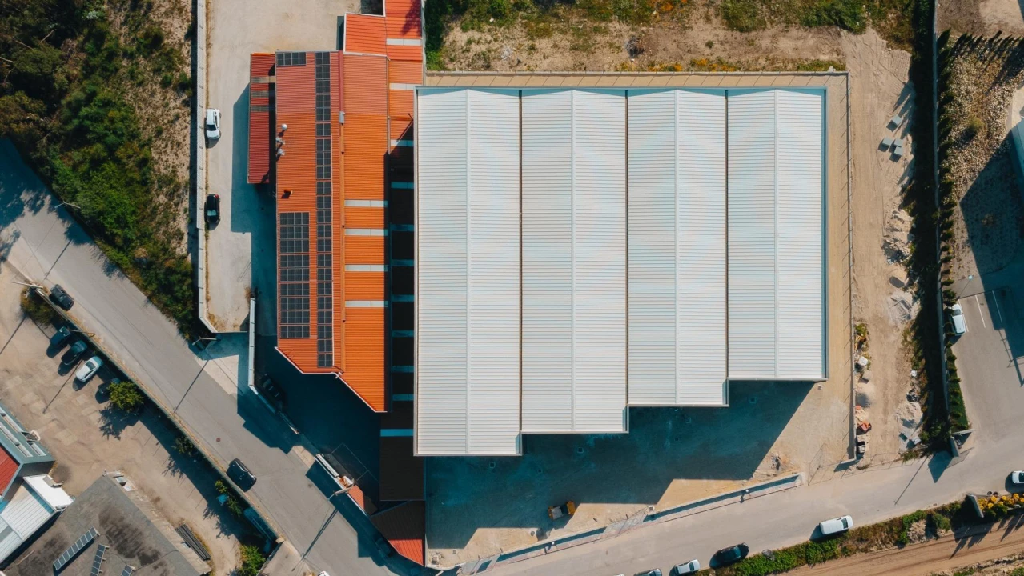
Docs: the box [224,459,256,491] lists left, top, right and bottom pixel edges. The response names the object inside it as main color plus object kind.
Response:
black car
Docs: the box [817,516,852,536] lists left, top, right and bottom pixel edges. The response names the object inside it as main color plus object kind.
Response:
white vehicle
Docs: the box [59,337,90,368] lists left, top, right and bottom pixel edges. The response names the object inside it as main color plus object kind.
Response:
black car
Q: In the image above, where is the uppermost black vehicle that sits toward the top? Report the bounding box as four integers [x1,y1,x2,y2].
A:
[204,195,220,225]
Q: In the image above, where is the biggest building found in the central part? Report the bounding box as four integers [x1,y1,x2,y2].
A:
[414,86,827,457]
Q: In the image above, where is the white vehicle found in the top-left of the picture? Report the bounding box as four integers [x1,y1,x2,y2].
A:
[205,109,221,139]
